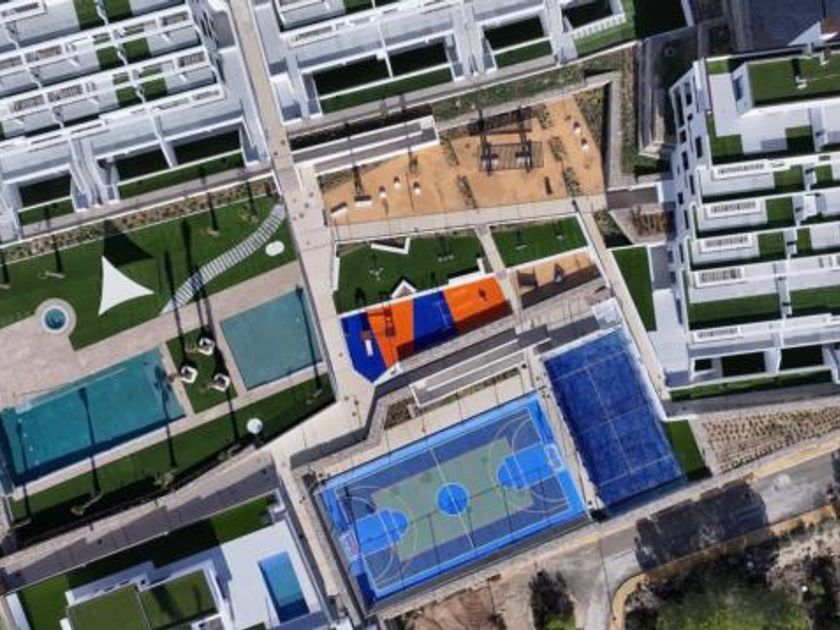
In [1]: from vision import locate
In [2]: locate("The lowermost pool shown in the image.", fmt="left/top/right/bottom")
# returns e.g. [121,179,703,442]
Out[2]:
[257,548,312,622]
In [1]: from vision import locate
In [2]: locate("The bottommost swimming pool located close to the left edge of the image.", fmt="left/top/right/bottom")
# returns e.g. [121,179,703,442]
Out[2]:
[0,345,187,490]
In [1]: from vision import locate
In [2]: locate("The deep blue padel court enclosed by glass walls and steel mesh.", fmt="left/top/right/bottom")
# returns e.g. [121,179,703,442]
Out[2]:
[545,329,690,514]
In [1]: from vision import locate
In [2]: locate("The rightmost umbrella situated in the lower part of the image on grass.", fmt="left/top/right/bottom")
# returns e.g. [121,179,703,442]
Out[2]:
[245,417,261,433]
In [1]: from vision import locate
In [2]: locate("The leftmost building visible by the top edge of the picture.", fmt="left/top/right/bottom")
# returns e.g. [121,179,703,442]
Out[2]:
[0,0,249,230]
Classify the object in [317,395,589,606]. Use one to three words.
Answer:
sports court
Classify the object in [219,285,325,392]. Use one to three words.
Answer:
swimming pool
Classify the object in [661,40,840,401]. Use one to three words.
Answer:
building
